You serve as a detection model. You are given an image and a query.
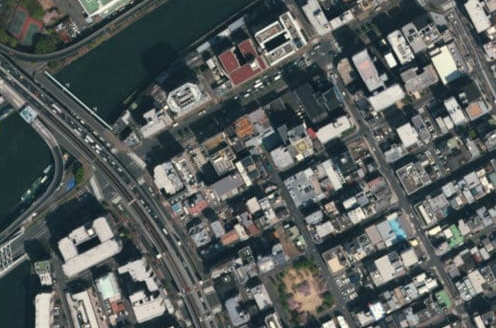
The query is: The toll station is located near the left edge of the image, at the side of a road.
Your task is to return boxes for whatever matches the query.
[17,105,35,123]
